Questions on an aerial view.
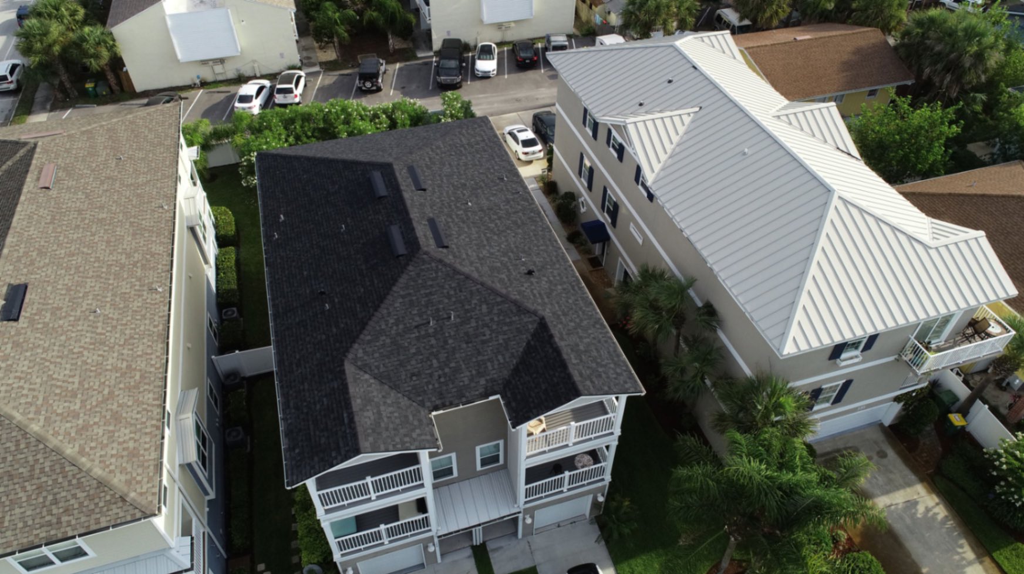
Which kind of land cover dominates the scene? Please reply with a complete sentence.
Most of the picture is covered by buildings.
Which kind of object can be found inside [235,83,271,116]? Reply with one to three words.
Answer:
car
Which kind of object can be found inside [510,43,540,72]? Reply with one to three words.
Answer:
car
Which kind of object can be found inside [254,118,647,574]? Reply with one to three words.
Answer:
house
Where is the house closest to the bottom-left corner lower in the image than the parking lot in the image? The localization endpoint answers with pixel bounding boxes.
[0,103,226,574]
